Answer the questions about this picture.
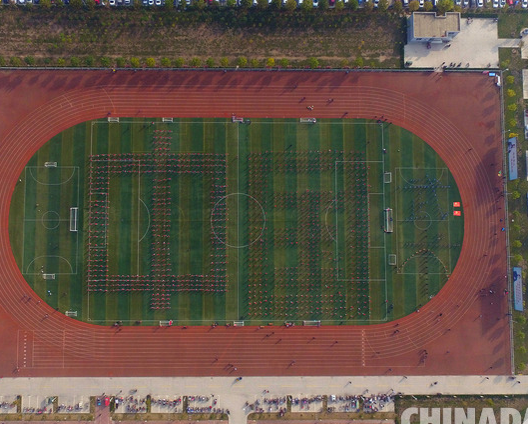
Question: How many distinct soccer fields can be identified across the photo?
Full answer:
In total, 3 soccer fields can be seen.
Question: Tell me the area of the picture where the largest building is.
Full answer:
The largest building is in the top right part of the image.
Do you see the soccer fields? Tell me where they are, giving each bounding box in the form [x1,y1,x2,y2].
[22,165,83,277]
[8,117,465,325]
[393,167,452,278]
